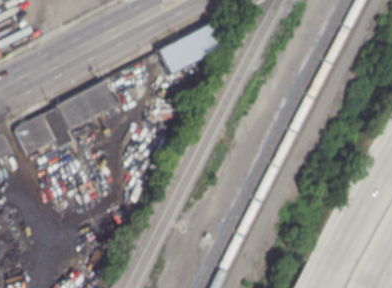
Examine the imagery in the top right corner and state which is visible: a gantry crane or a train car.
train car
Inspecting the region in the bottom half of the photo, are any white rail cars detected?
Yes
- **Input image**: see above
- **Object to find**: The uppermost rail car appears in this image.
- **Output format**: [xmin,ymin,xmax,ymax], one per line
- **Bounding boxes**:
[344,0,366,30]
